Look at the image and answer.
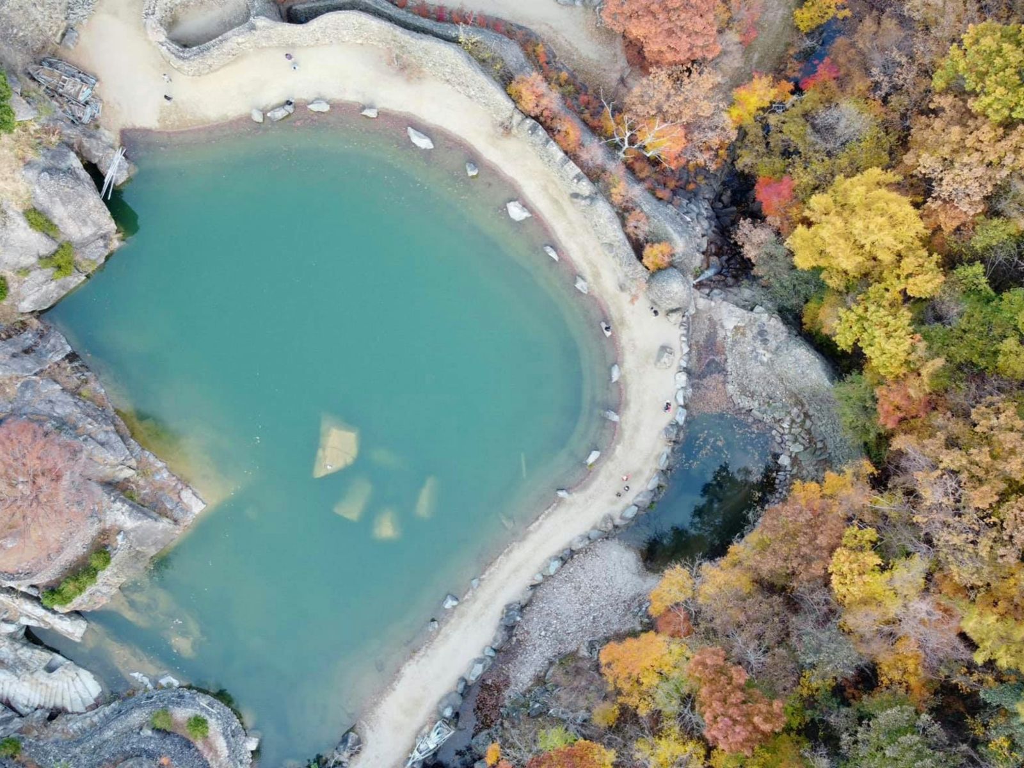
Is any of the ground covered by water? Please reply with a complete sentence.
Yes, some water is visible.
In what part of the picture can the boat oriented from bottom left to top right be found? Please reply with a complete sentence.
The boat oriented from bottom left to top right is located in the bottom region of the scene.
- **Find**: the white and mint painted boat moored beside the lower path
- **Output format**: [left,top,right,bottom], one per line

[406,718,454,768]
